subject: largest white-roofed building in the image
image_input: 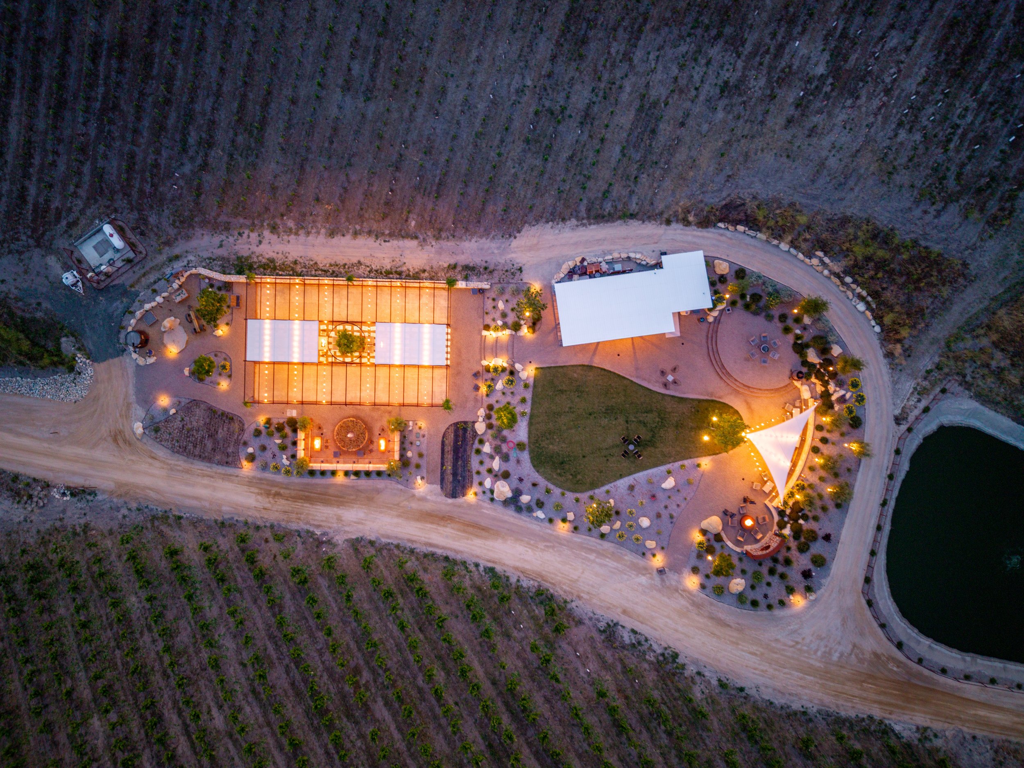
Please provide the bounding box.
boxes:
[554,250,713,347]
